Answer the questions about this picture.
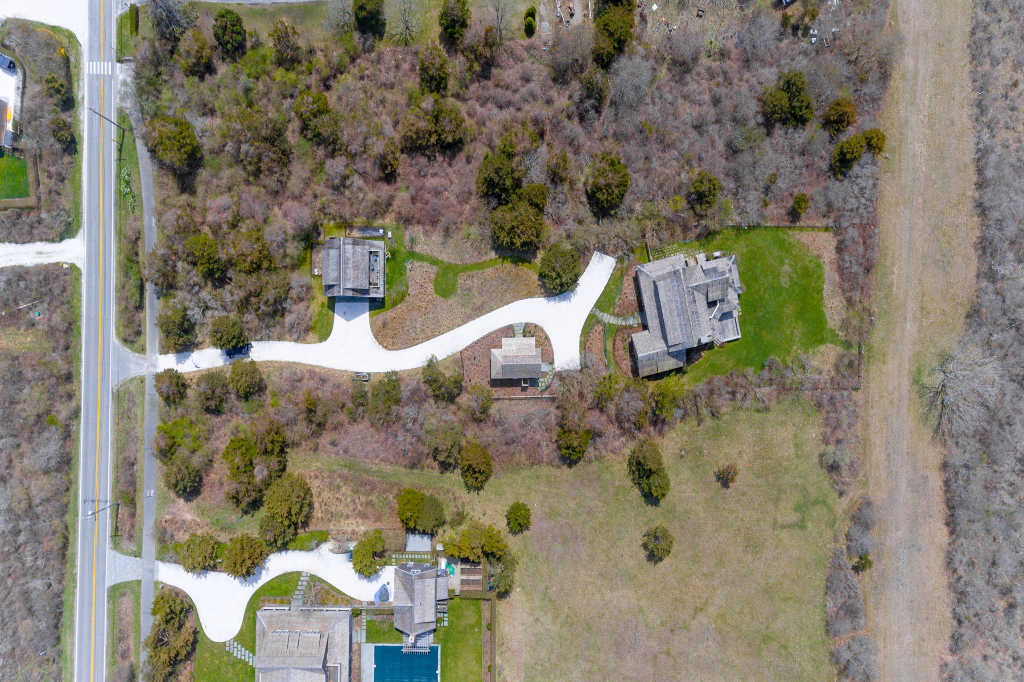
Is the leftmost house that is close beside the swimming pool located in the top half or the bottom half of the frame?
bottom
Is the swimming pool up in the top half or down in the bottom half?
bottom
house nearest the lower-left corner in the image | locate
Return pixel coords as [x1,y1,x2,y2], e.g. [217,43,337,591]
[256,603,356,682]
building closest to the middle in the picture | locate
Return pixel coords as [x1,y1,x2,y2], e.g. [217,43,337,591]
[491,338,541,386]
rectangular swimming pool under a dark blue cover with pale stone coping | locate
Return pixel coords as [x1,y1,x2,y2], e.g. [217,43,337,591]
[361,644,441,682]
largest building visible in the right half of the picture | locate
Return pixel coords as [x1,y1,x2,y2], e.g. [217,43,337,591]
[631,251,742,377]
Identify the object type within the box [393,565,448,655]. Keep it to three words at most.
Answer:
building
